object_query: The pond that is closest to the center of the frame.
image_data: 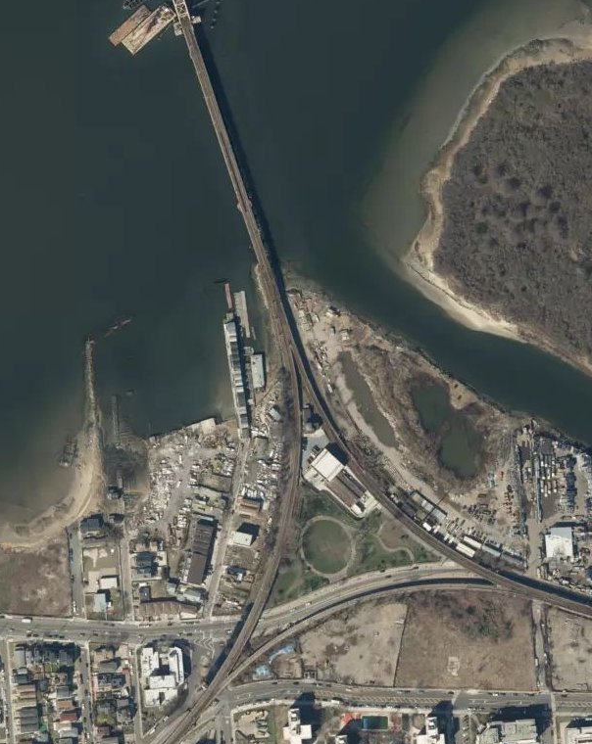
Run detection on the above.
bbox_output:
[340,351,398,448]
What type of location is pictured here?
port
